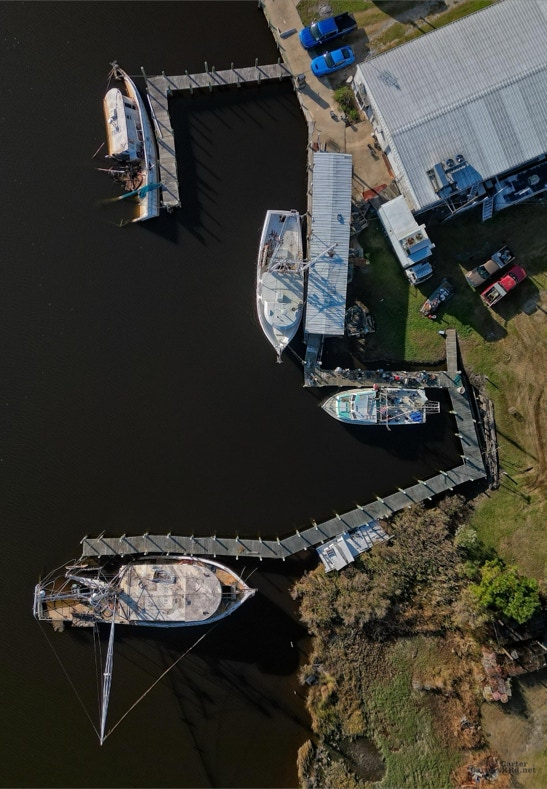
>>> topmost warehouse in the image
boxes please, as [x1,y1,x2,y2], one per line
[351,0,547,217]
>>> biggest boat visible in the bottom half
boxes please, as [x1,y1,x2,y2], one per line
[27,552,259,746]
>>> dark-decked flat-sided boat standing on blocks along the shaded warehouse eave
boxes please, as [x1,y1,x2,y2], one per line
[492,167,547,223]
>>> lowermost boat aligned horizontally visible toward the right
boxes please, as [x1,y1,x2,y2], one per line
[320,384,447,436]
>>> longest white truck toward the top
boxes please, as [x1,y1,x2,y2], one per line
[377,195,435,288]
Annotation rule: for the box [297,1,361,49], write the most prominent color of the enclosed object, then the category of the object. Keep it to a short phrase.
blue truck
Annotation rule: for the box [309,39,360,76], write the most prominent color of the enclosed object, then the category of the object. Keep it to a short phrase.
blue car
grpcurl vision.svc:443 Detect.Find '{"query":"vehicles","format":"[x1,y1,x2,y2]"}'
[309,39,360,76]
[481,261,534,310]
[297,1,361,49]
[377,195,435,288]
[464,240,521,287]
